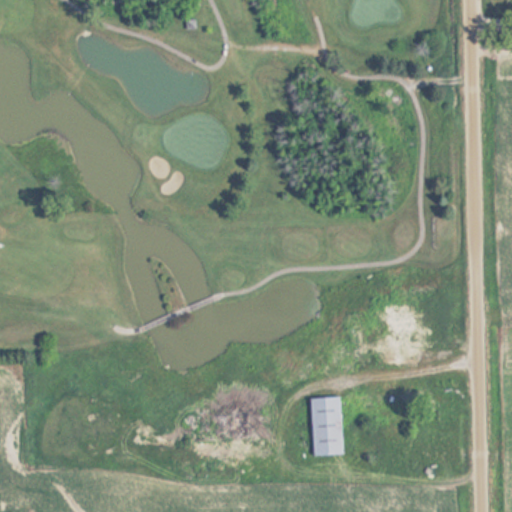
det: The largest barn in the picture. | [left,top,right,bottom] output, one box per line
[311,396,344,458]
